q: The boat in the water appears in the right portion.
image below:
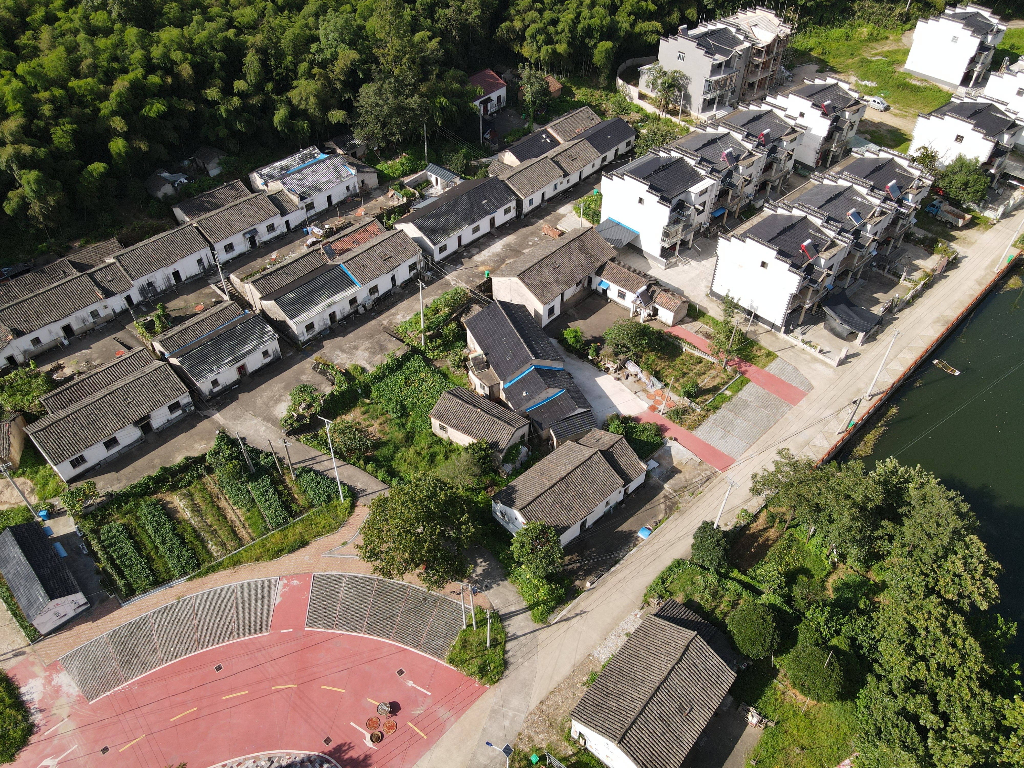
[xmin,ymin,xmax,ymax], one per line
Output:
[934,359,960,373]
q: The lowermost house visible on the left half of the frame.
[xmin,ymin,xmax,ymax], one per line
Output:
[0,522,89,638]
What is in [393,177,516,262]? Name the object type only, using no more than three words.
house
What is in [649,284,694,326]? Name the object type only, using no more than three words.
shed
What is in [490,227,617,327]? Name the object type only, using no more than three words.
house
